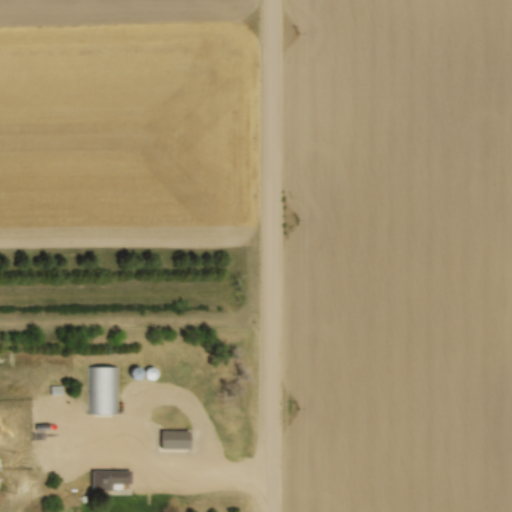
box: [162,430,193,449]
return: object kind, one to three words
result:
building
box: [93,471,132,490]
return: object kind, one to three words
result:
house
